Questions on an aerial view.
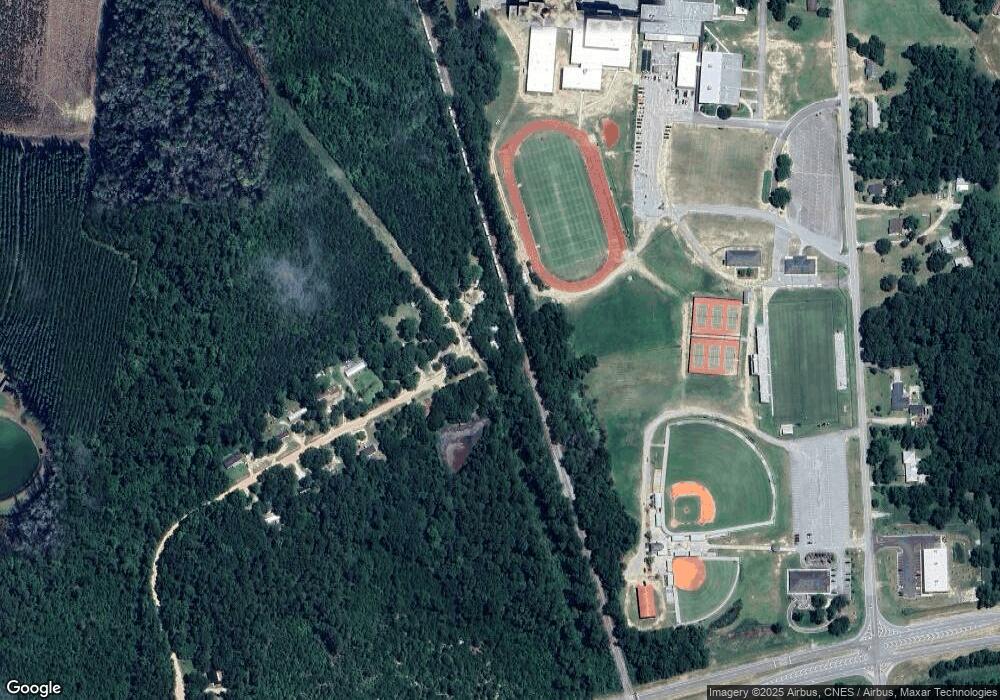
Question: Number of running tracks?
1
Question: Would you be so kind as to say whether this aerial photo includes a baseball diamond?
Yes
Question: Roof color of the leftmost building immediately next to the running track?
white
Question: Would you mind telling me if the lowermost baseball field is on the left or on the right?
right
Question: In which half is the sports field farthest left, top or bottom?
top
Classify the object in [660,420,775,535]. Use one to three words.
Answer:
baseball field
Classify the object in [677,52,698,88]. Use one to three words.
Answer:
building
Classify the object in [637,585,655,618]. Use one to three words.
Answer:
barn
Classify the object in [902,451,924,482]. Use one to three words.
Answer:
house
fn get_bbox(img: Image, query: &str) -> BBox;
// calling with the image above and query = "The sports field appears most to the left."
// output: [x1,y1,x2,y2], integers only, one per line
[515,131,608,281]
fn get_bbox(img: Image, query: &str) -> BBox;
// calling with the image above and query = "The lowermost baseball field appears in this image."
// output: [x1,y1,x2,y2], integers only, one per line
[674,556,740,625]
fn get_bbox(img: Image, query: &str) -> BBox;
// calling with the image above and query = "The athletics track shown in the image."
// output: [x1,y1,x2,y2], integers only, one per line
[498,119,628,293]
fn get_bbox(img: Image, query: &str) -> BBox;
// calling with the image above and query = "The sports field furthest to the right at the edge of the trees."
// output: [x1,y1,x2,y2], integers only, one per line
[768,289,858,437]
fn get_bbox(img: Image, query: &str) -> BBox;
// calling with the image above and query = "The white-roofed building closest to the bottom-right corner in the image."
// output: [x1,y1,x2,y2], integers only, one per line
[924,549,947,593]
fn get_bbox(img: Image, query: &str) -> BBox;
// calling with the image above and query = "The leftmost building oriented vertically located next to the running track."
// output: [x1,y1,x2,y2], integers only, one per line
[526,27,557,94]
